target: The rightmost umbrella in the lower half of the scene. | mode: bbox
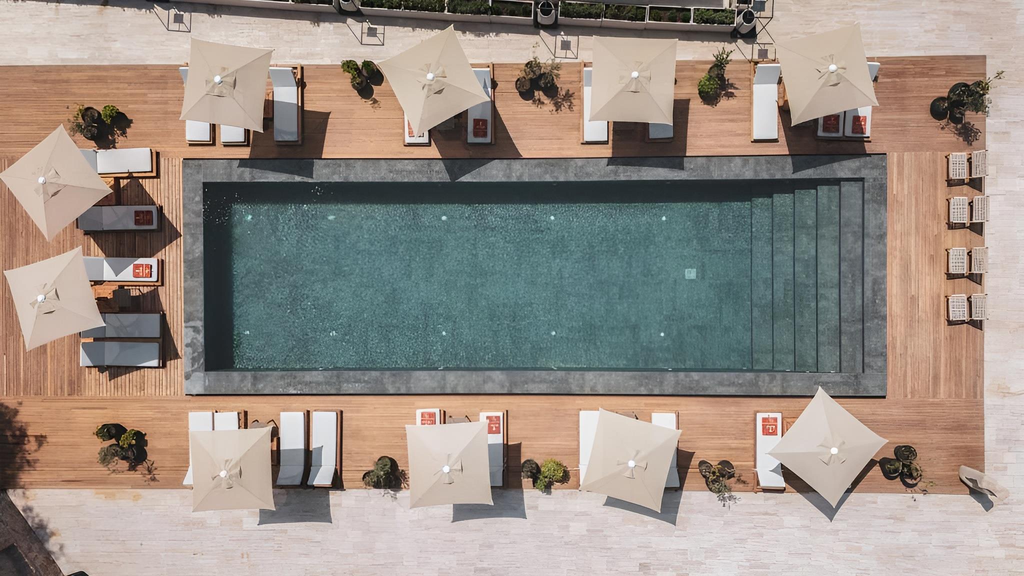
[766,386,889,508]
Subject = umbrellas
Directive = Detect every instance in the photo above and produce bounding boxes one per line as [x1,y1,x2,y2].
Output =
[0,122,114,242]
[405,420,494,509]
[766,386,889,508]
[2,246,107,352]
[378,25,492,142]
[588,35,679,125]
[180,36,273,133]
[773,22,879,127]
[578,407,684,513]
[187,425,277,515]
